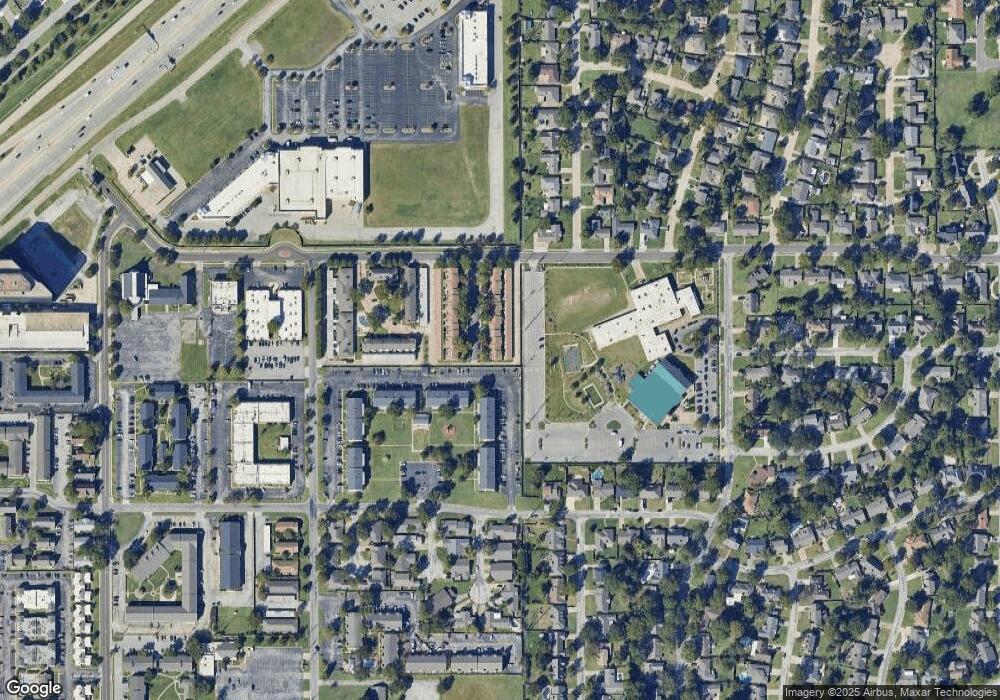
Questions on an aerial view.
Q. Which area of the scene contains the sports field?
center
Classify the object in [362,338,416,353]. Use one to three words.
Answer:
building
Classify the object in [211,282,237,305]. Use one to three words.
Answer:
building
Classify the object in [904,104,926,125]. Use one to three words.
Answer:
house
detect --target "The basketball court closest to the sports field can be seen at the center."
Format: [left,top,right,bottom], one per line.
[562,343,583,372]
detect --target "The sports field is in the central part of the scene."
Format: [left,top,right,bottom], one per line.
[548,270,630,328]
